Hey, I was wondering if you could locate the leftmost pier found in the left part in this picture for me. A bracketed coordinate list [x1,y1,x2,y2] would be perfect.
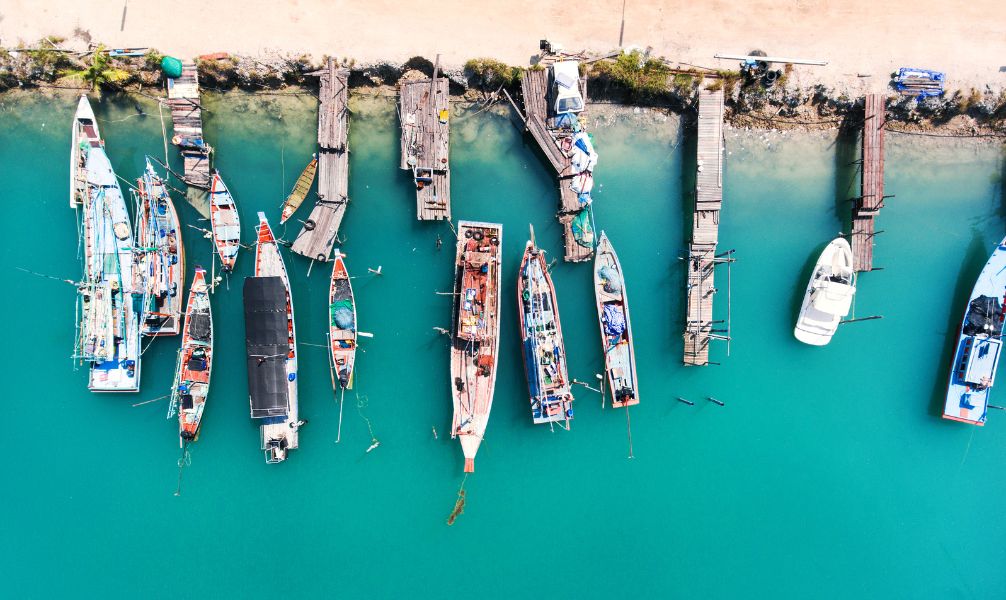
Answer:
[155,61,218,190]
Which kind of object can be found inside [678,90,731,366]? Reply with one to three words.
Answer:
pier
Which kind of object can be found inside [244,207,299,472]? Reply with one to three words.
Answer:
boat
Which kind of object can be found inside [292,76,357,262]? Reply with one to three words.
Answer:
pier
